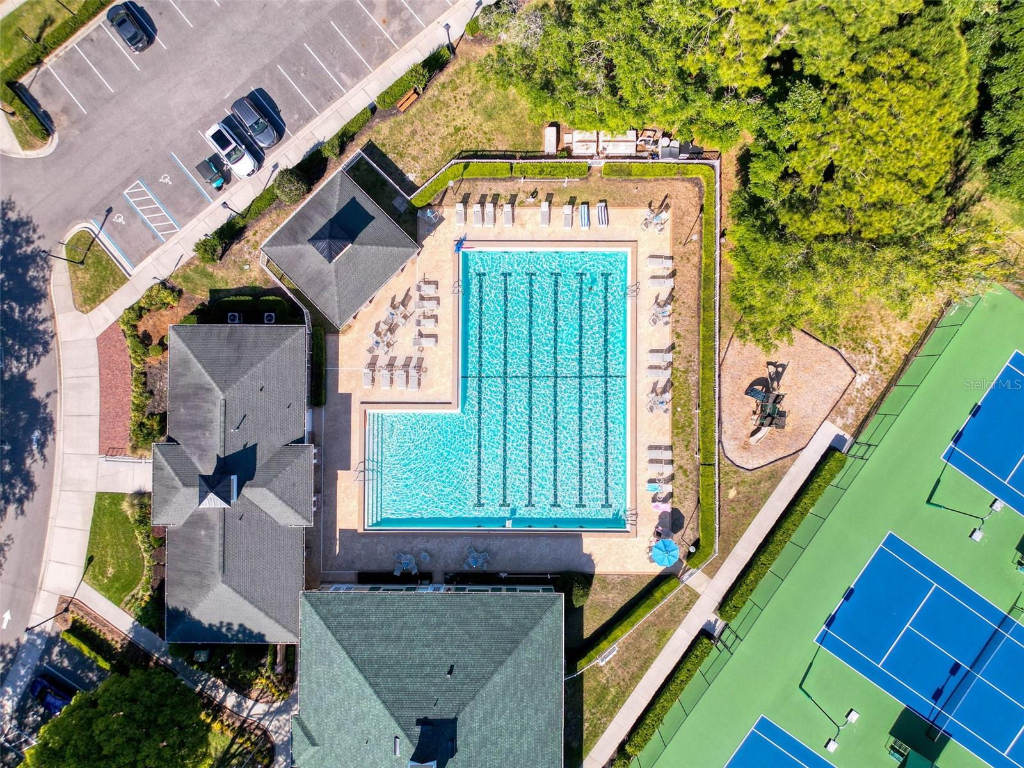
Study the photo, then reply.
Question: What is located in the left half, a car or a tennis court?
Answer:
car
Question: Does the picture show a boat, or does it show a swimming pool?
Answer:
swimming pool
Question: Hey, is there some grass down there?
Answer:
Yes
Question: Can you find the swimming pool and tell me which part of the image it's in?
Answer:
center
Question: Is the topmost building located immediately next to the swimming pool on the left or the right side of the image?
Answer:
left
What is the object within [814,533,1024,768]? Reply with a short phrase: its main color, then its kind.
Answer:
blue tennis court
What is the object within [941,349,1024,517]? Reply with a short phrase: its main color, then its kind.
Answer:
blue tennis court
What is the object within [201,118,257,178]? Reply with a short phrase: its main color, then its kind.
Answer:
white car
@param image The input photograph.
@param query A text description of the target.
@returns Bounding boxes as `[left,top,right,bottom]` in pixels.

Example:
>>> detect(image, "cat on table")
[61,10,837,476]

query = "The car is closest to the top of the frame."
[100,0,150,54]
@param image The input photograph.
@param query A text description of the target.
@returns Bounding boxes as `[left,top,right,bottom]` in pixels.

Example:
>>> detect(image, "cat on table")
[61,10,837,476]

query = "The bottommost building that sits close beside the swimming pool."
[290,581,565,768]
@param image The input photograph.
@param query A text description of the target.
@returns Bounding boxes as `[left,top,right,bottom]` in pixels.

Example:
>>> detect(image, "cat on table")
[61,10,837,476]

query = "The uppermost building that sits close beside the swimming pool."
[260,167,423,328]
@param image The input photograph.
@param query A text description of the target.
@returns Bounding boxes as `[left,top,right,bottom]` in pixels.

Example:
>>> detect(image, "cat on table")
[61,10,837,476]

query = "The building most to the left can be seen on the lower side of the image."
[150,323,328,645]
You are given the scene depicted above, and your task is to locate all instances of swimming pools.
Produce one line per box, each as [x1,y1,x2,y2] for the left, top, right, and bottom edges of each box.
[354,241,640,538]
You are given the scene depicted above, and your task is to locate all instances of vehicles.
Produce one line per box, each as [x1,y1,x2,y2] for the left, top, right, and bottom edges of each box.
[227,92,280,149]
[192,156,227,192]
[201,118,257,178]
[24,683,75,727]
[100,0,150,54]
